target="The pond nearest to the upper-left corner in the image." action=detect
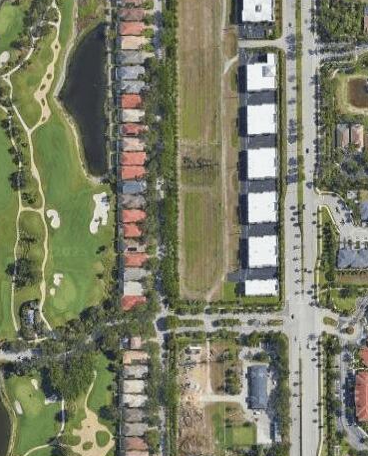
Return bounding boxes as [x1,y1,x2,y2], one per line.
[61,23,106,178]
